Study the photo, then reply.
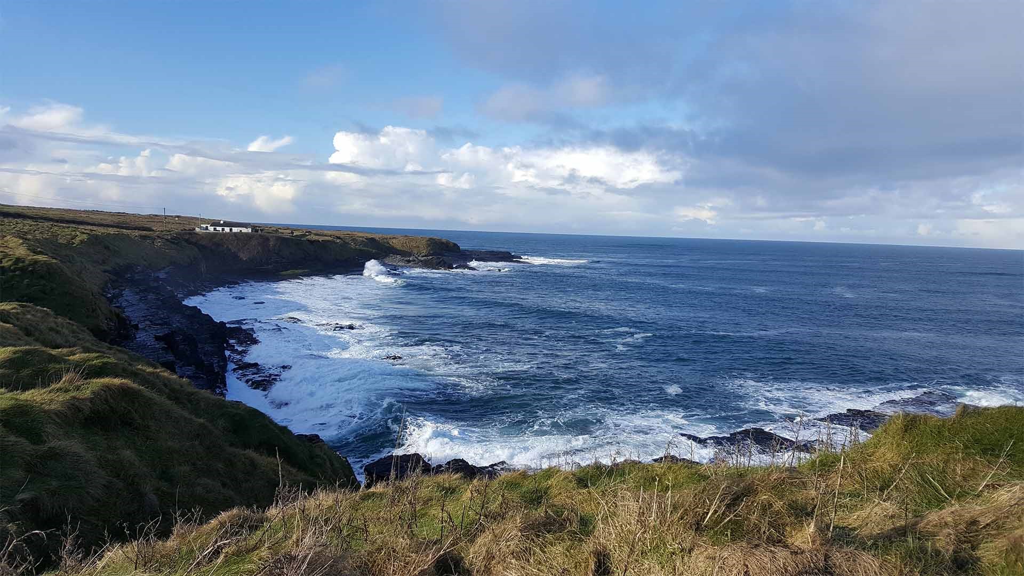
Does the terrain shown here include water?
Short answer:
Yes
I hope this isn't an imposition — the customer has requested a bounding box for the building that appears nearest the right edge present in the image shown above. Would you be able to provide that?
[195,219,257,234]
